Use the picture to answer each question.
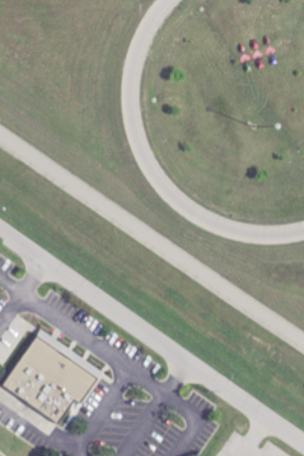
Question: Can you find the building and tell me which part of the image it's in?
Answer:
bottom left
